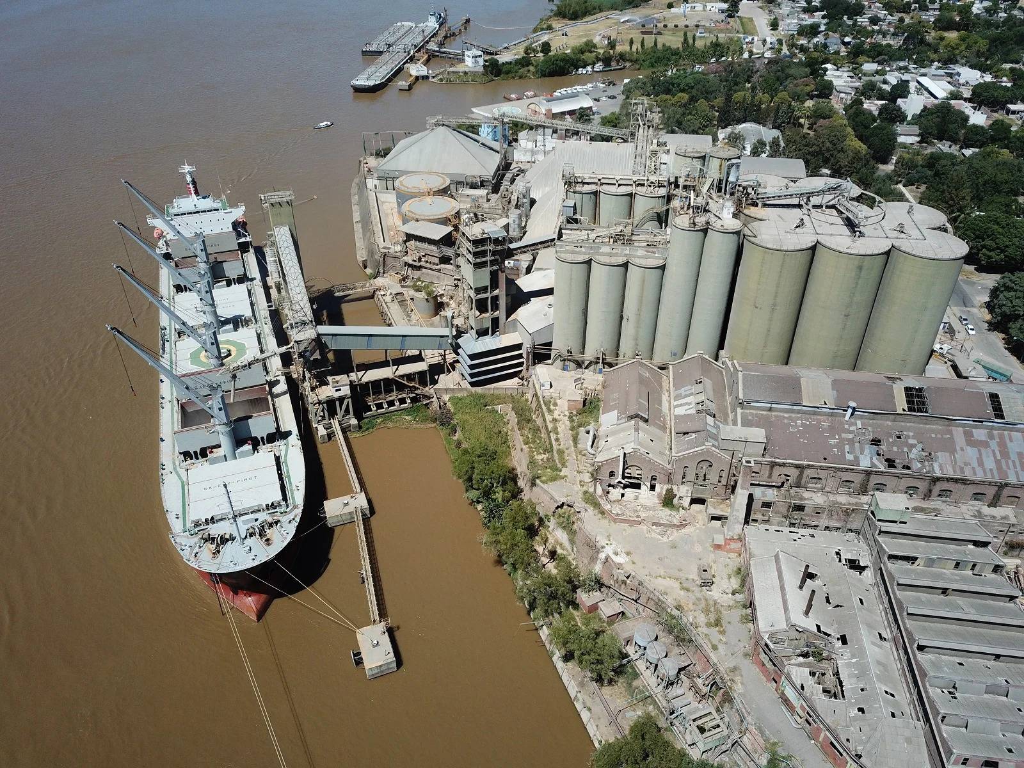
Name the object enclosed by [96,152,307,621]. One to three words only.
ship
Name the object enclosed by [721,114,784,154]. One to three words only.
building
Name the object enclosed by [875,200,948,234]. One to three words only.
silo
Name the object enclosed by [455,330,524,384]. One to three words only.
building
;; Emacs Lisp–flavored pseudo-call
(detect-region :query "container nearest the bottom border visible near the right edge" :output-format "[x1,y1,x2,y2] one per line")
[973,356,1015,384]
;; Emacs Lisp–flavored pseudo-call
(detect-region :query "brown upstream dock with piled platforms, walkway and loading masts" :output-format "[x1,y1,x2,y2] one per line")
[397,0,500,95]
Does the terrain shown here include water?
Yes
